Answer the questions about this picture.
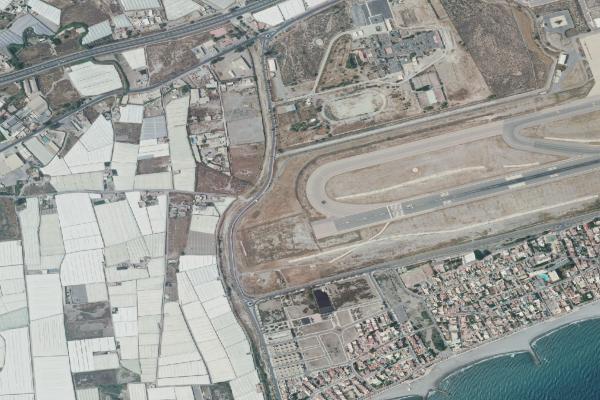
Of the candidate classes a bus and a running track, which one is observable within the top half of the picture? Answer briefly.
running track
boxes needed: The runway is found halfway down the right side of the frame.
[335,155,600,228]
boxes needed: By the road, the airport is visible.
[233,30,600,295]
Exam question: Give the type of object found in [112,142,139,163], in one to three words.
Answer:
greenhouse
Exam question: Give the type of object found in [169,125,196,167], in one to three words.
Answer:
greenhouse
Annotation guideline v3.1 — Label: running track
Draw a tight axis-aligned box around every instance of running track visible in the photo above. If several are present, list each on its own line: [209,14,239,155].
[322,90,387,124]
